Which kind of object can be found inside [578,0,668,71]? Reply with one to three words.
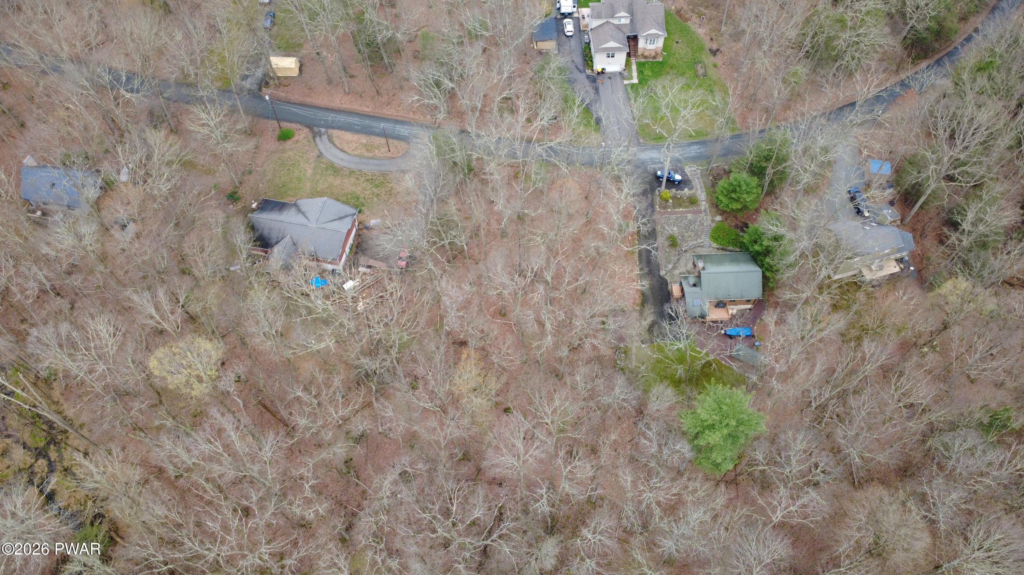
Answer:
house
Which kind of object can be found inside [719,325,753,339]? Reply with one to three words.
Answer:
boat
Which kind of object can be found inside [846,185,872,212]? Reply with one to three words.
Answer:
truck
